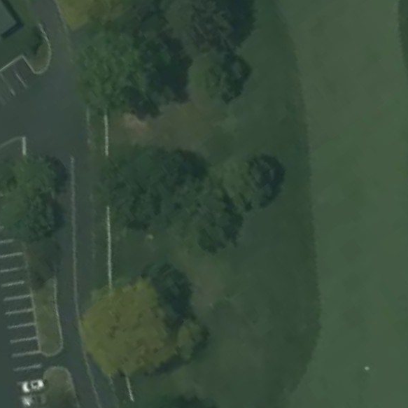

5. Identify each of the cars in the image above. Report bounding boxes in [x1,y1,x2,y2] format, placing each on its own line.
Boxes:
[20,378,44,392]
[21,394,45,407]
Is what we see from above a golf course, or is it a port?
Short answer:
golf course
